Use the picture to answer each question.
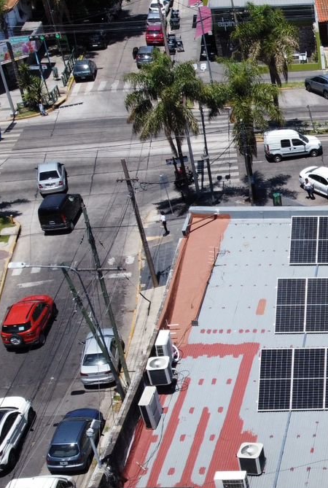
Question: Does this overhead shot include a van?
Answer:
Yes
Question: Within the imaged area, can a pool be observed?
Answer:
No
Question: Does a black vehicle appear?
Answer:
Yes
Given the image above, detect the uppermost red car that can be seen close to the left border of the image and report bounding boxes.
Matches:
[0,291,57,351]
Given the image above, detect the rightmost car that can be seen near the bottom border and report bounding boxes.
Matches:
[40,398,101,472]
